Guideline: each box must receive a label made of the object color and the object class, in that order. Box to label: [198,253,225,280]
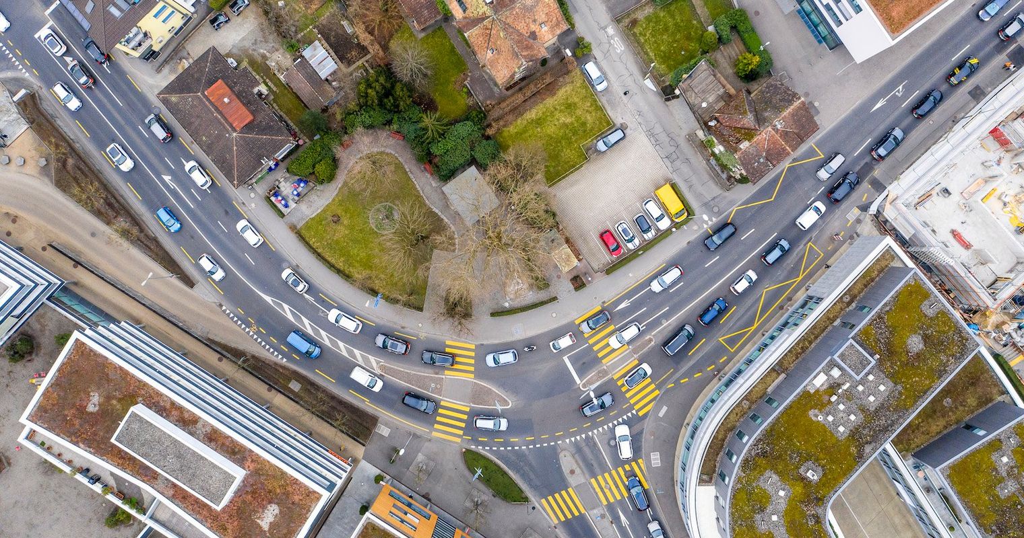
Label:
white car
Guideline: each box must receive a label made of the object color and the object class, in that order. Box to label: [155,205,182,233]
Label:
blue car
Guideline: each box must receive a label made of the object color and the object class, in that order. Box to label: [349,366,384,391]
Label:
white vehicle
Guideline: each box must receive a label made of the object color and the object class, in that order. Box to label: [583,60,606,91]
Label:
white car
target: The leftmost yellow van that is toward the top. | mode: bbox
[657,184,685,220]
